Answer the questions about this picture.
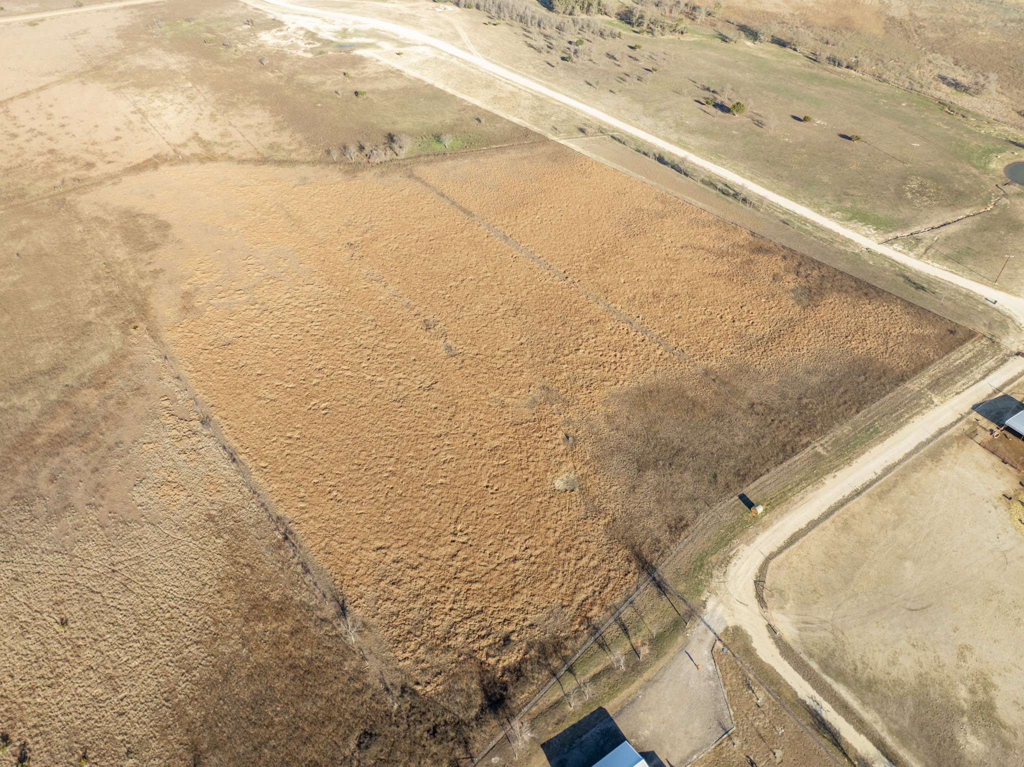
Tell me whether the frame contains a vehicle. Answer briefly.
No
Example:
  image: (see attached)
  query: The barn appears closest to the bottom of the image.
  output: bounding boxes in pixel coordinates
[587,738,650,767]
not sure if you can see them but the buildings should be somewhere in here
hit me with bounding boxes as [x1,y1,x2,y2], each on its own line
[587,738,650,767]
[1000,413,1024,433]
